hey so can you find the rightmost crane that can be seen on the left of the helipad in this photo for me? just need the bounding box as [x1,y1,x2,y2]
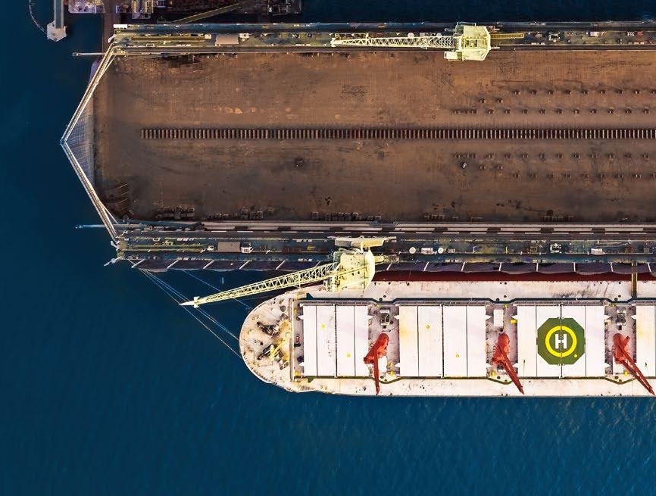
[493,332,526,394]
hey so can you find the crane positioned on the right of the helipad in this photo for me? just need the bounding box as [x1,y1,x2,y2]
[613,332,656,395]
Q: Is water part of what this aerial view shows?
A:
Yes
